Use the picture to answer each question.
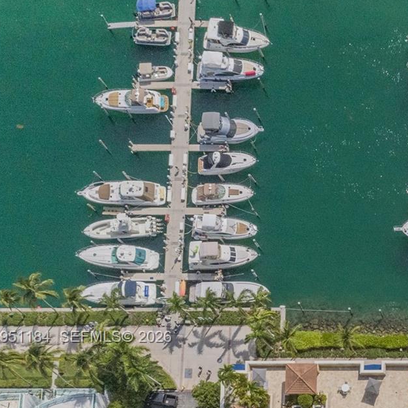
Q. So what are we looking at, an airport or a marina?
marina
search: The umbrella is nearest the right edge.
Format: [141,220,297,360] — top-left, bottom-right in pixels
[362,377,383,396]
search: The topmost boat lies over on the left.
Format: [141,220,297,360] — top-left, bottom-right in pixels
[134,0,177,21]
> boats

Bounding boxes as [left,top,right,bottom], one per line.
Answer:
[193,183,257,206]
[75,182,167,208]
[133,65,174,81]
[81,282,157,308]
[81,218,162,243]
[198,152,259,176]
[190,280,270,308]
[199,116,264,145]
[134,0,177,21]
[130,26,174,46]
[205,24,270,55]
[193,212,258,241]
[198,54,264,83]
[73,244,161,271]
[89,90,171,117]
[184,277,189,298]
[190,242,258,271]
